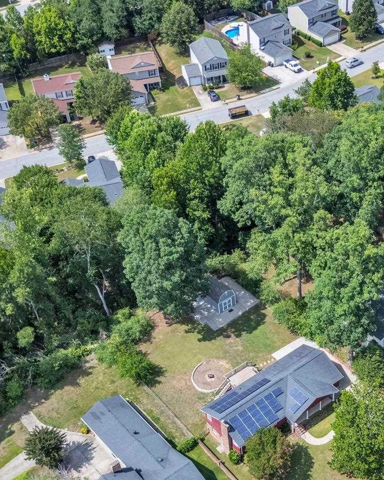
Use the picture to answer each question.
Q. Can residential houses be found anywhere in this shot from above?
Yes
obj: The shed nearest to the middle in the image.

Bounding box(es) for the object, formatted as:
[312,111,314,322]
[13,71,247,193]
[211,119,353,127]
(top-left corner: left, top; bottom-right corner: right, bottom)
[198,279,238,314]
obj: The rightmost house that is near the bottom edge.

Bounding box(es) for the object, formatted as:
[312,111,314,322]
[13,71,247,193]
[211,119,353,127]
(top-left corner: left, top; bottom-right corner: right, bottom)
[199,345,344,462]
